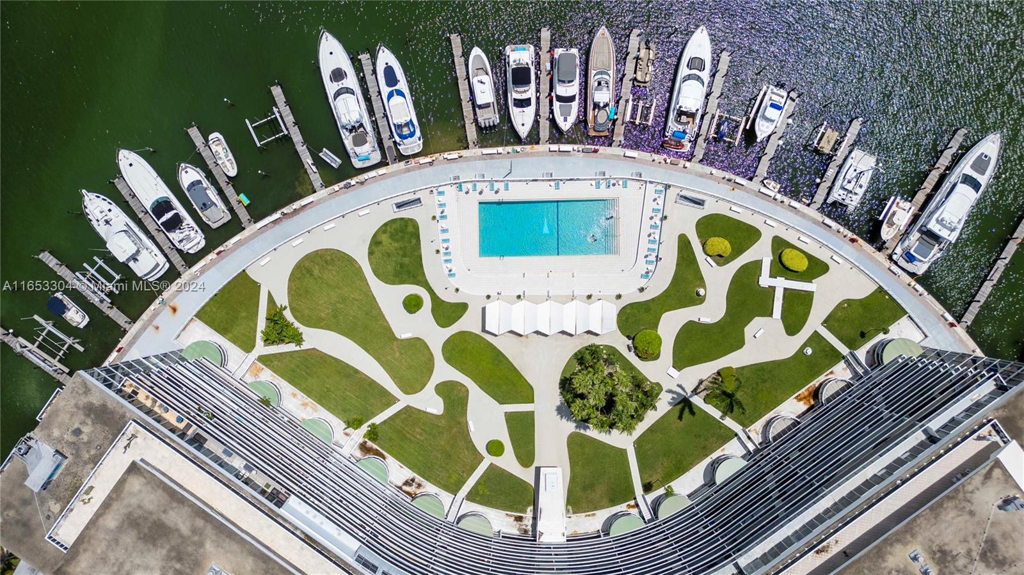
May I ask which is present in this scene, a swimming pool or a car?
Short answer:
swimming pool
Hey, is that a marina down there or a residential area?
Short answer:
marina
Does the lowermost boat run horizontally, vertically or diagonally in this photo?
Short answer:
diagonally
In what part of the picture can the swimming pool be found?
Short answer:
center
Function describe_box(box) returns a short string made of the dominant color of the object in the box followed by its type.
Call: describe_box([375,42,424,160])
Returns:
white boat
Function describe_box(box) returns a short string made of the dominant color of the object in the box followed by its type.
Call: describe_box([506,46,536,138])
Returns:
white boat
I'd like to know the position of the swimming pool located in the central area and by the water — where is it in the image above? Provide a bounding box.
[433,180,666,297]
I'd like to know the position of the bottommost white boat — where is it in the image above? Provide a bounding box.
[47,293,92,329]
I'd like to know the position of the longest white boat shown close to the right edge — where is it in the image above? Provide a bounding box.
[888,132,1005,276]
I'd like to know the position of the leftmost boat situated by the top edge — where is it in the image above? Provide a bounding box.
[317,28,379,173]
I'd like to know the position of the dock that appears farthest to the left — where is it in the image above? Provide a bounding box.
[0,322,75,385]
